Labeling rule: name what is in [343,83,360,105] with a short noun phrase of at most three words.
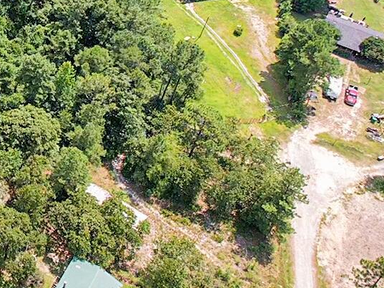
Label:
vehicle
